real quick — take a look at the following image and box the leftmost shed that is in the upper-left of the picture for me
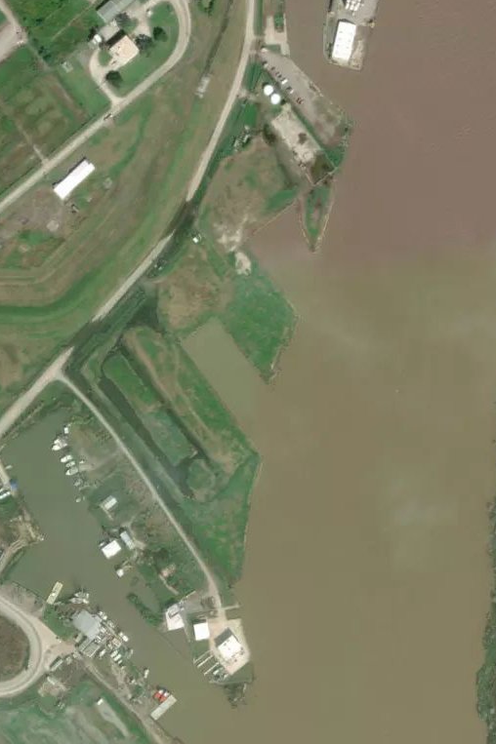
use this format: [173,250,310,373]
[54,160,94,198]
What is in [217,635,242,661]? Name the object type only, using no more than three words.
building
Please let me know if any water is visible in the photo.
Yes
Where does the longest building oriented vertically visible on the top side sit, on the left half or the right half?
right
